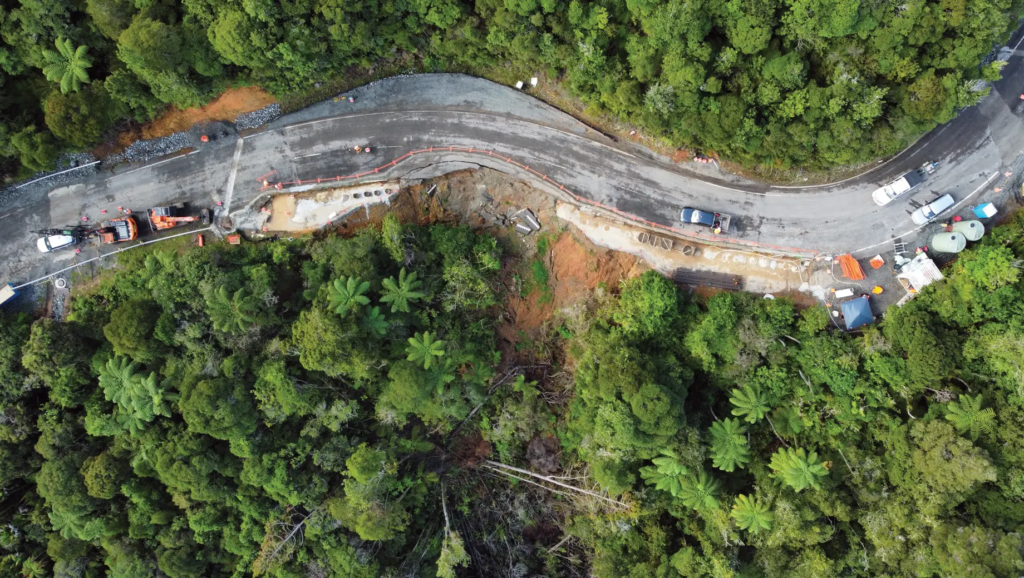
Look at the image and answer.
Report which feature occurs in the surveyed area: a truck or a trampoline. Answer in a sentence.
Visible in the photo is a truck.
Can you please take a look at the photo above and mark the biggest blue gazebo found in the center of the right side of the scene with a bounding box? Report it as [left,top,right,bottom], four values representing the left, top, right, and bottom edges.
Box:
[840,296,874,329]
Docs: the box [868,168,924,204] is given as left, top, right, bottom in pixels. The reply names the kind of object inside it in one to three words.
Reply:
truck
